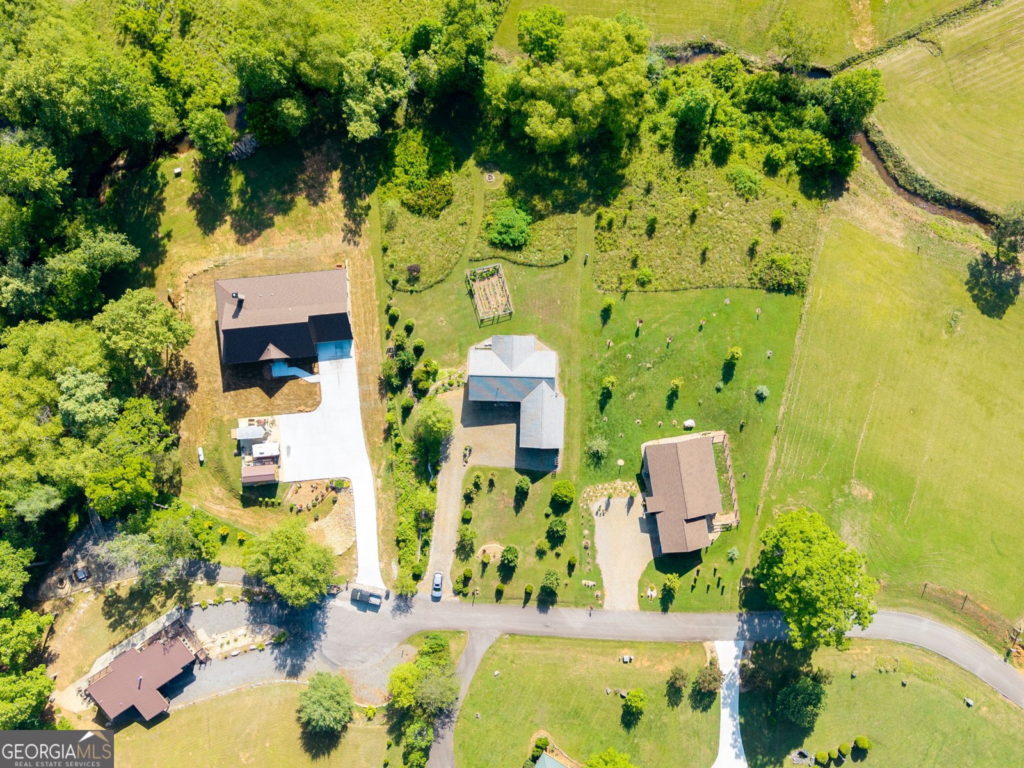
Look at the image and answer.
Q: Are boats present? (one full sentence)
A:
No, I can't see a single boat in this photo.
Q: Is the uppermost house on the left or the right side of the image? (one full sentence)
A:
The uppermost house is on the left side of the image.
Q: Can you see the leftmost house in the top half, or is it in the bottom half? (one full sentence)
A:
You can find the leftmost house in the bottom half.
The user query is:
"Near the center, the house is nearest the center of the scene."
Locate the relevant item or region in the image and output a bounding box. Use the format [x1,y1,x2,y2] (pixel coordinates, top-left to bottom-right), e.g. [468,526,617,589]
[468,335,564,448]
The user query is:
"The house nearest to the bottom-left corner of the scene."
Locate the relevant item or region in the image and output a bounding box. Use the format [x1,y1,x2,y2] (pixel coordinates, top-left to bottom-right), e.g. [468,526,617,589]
[86,634,198,721]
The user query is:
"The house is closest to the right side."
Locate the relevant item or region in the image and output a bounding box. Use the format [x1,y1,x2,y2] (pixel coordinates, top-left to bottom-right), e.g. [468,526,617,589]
[645,437,722,553]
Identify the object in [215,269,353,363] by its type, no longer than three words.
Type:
house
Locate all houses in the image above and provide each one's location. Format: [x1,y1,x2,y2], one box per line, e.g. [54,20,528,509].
[86,634,198,721]
[215,269,353,363]
[468,335,564,448]
[534,749,574,768]
[645,437,722,553]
